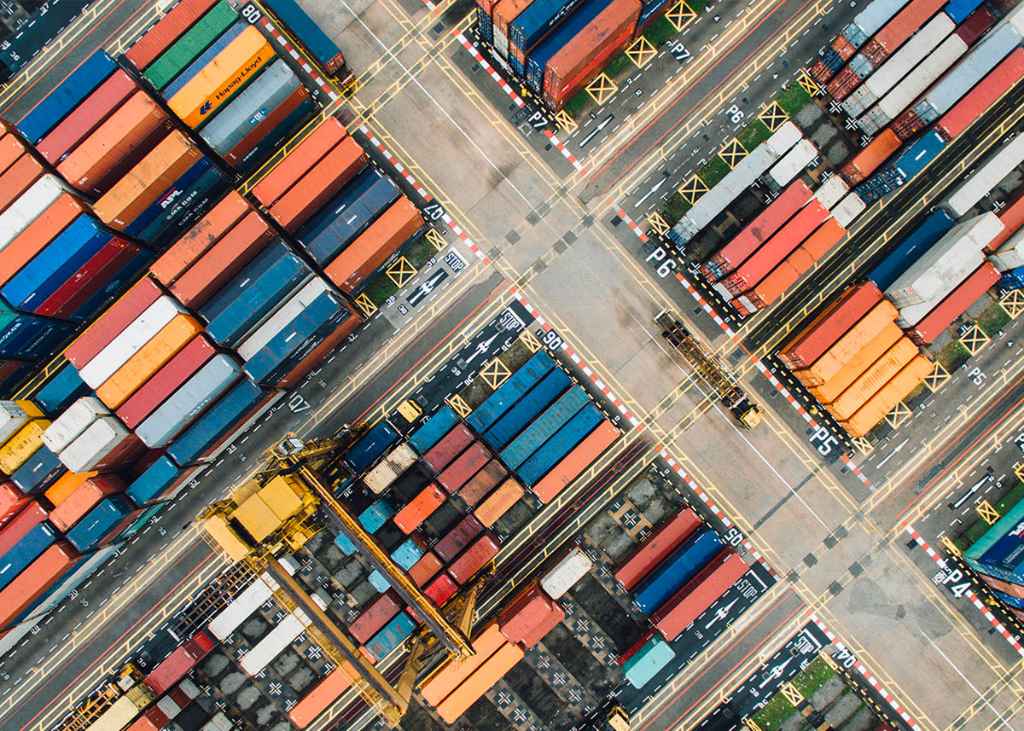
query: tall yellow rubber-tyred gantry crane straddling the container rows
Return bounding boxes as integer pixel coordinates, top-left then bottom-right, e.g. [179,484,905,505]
[198,421,493,731]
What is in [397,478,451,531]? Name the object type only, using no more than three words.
shipping container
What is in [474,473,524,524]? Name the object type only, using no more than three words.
shipping container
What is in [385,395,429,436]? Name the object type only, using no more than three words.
truck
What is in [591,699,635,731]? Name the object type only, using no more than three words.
truck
